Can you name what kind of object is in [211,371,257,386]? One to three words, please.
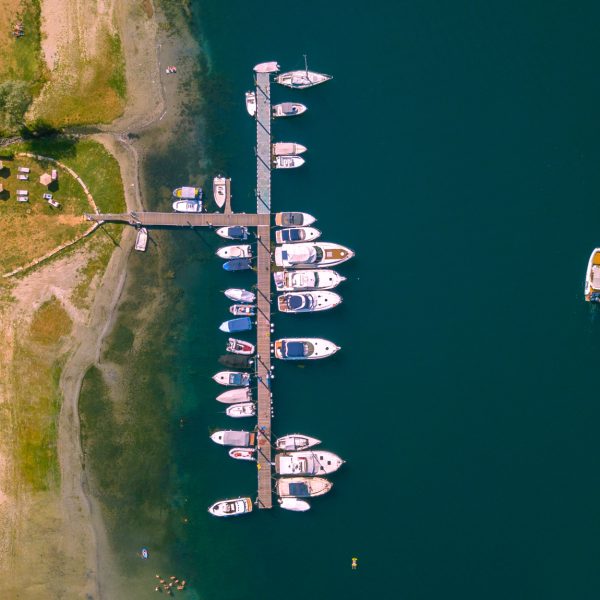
boat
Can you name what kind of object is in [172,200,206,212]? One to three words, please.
boat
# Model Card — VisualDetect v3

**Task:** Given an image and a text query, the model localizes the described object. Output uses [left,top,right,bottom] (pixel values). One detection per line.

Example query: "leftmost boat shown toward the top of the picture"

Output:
[134,228,146,251]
